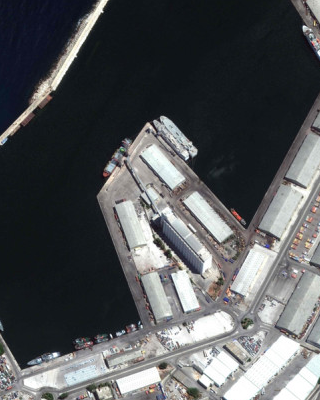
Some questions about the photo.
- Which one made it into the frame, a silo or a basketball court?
silo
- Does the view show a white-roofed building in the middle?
Yes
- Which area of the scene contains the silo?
center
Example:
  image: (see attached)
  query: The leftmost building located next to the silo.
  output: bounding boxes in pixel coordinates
[116,200,146,252]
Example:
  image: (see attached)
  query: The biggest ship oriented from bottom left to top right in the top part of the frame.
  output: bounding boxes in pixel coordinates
[104,137,133,177]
